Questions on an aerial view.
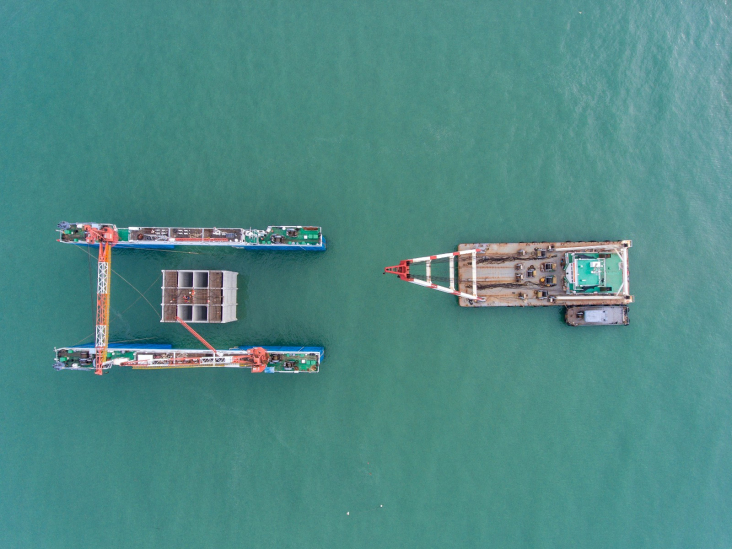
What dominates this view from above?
water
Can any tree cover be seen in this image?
No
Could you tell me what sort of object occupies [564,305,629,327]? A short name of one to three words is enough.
boat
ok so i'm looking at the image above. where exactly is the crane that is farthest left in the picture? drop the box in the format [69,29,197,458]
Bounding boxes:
[84,221,125,375]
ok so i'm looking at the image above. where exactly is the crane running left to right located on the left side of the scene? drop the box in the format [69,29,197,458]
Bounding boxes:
[118,349,272,372]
